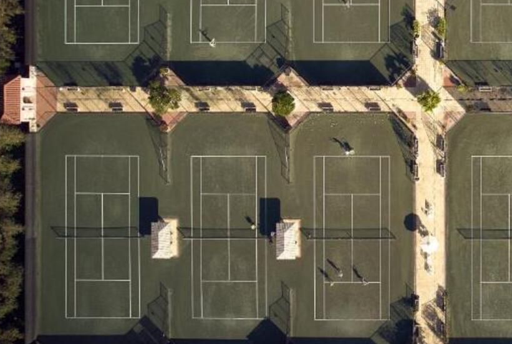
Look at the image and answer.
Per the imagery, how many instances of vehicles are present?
0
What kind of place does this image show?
sports ground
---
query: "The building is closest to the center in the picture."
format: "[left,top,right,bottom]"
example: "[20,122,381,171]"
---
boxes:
[276,220,300,260]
